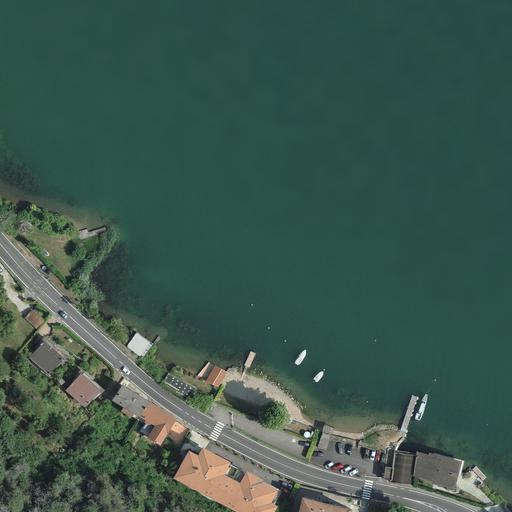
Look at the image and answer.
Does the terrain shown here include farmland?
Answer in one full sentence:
No, farmland can't be seen anywhere here.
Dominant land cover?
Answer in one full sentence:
For the most part, this view shows water.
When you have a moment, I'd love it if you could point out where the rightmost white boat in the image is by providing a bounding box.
[414,394,427,421]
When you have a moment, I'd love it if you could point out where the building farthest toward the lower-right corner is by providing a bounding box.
[414,452,465,492]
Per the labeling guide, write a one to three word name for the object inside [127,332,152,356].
building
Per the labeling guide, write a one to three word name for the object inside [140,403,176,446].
house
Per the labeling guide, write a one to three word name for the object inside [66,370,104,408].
house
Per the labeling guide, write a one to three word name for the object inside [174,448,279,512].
building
